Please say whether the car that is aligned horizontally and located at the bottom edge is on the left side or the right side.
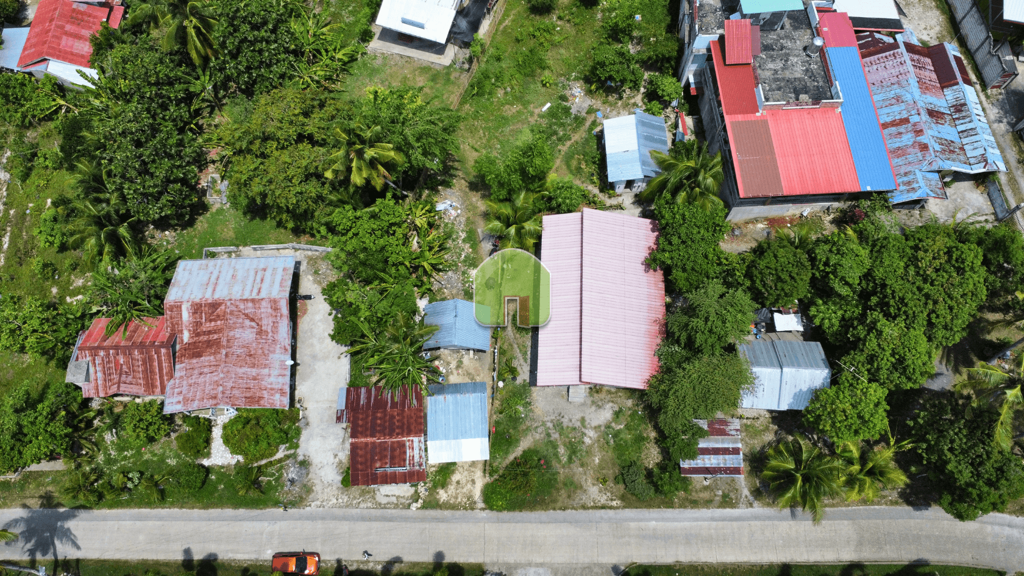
left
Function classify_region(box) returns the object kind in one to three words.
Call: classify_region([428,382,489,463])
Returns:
shed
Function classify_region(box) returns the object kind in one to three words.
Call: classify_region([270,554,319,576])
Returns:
car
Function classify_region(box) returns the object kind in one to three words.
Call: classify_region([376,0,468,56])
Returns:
house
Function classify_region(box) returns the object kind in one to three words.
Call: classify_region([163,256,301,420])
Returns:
house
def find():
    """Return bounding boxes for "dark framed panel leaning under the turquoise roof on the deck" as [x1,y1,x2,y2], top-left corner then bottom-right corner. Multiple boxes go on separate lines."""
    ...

[756,13,784,30]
